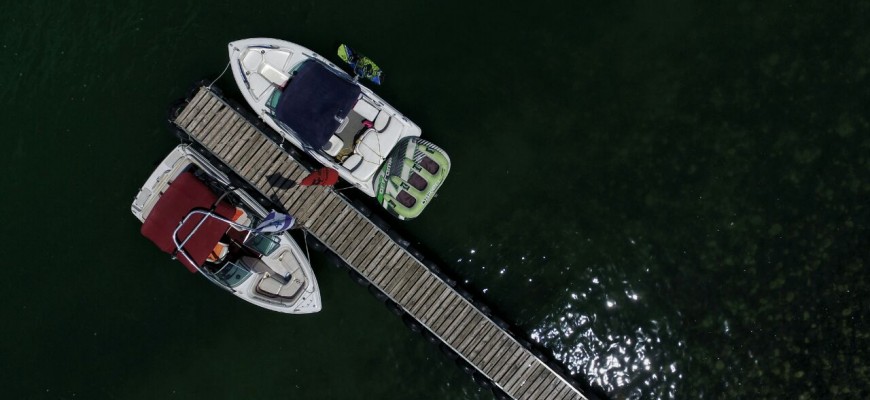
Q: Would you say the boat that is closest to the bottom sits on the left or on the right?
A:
left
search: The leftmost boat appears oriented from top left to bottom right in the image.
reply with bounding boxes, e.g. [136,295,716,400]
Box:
[131,140,323,314]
